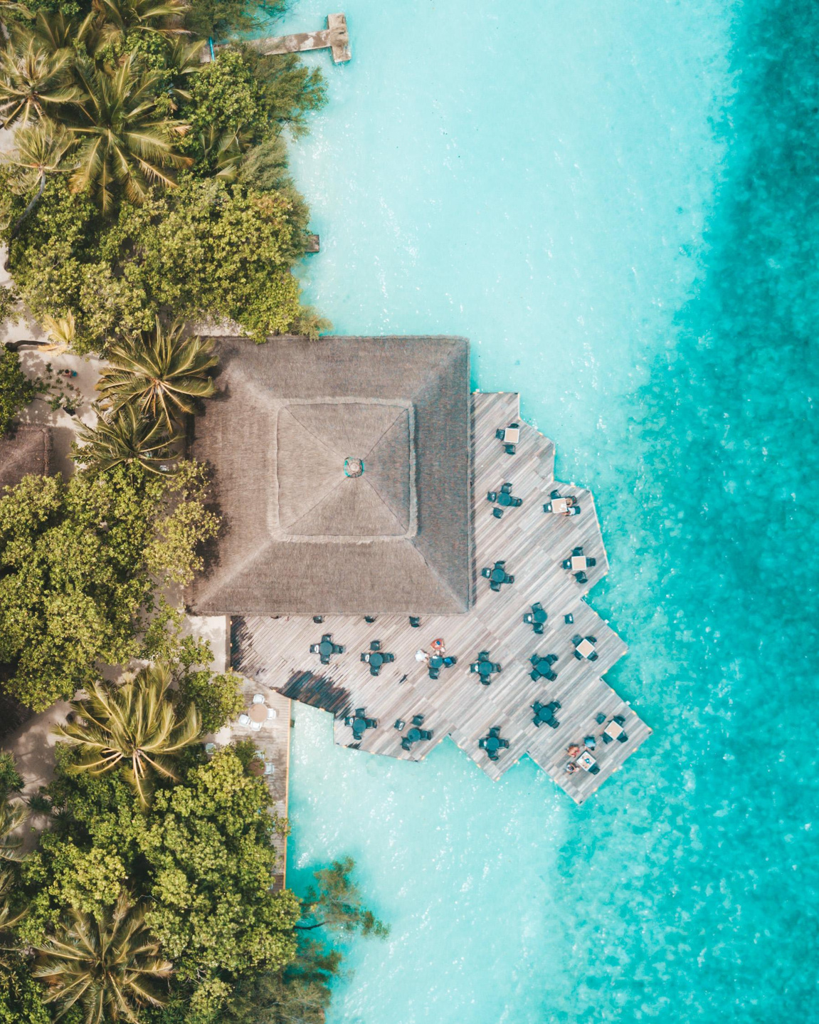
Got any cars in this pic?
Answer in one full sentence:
No, the scene contains no car.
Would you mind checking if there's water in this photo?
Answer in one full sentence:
Yes, some water is visible.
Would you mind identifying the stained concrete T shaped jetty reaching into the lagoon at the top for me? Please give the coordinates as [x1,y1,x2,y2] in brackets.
[194,13,351,68]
